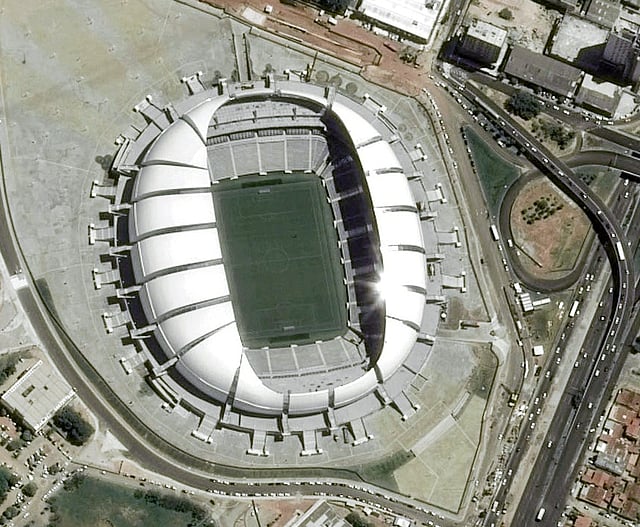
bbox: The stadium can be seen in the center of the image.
[90,68,467,456]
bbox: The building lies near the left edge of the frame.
[2,360,75,435]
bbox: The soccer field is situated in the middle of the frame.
[212,171,348,349]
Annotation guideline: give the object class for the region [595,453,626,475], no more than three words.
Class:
house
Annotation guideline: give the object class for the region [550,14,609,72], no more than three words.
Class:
building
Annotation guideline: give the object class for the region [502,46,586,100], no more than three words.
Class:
building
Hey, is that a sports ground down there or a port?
sports ground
